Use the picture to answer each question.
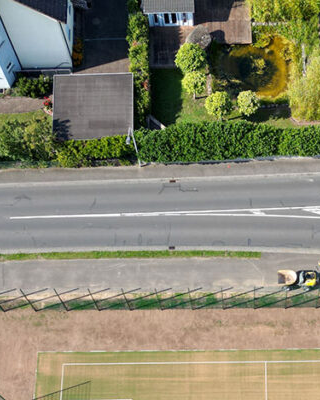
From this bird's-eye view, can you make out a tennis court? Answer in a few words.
No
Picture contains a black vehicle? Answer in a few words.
No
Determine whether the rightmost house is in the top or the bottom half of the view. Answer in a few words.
top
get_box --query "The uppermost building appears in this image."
[141,0,195,25]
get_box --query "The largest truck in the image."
[279,268,317,294]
